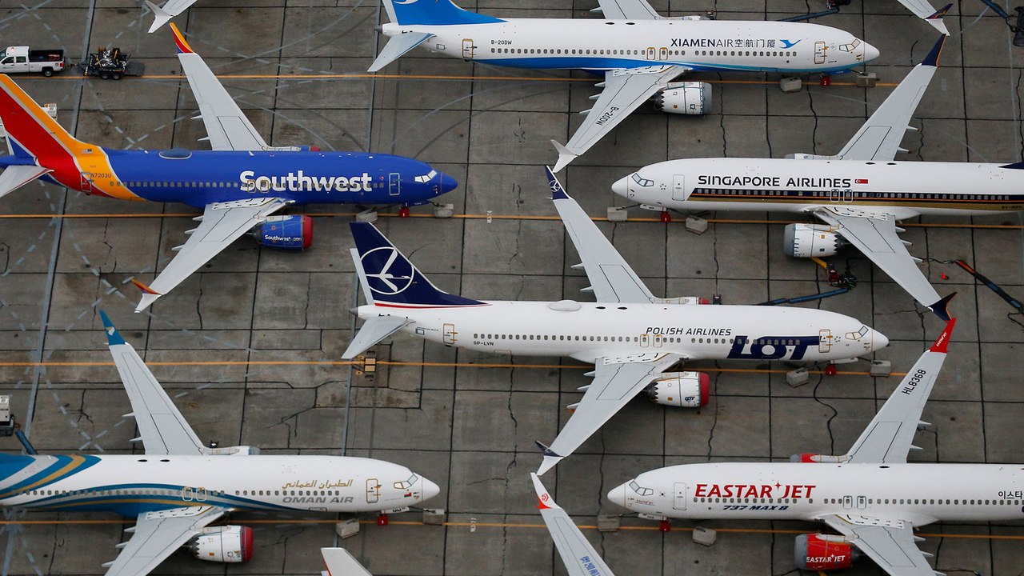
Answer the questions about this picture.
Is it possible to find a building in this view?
No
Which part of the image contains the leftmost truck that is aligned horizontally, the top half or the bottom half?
top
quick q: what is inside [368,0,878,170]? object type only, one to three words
airplane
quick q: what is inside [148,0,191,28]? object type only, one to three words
airplane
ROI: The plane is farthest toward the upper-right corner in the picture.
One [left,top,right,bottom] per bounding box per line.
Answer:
[902,0,953,35]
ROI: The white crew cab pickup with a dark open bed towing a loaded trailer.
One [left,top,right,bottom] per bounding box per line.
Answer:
[0,45,68,77]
